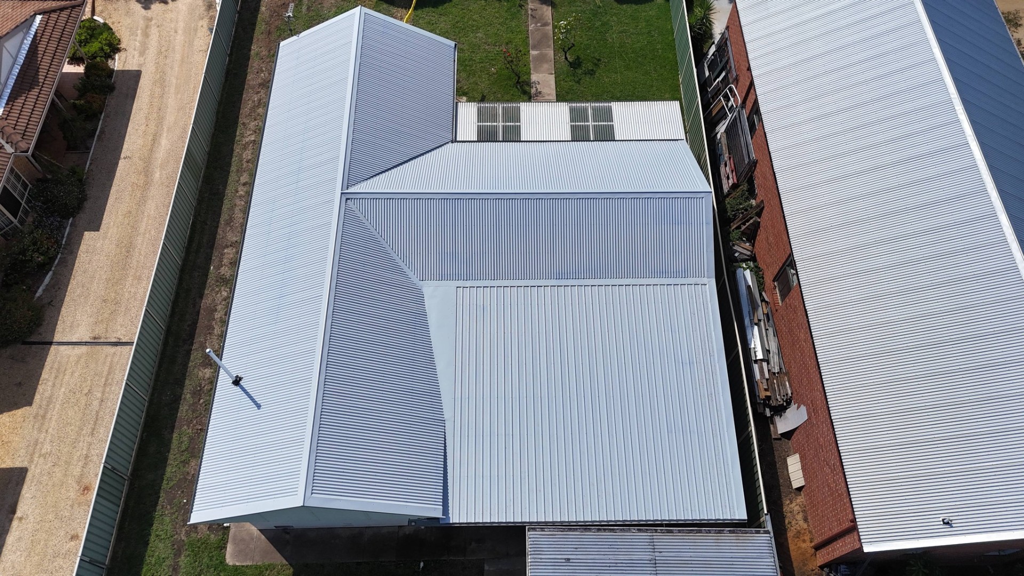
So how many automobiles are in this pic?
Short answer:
0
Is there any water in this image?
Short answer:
No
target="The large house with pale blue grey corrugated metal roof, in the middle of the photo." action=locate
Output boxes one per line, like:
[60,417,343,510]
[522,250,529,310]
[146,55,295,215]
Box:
[184,5,746,530]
